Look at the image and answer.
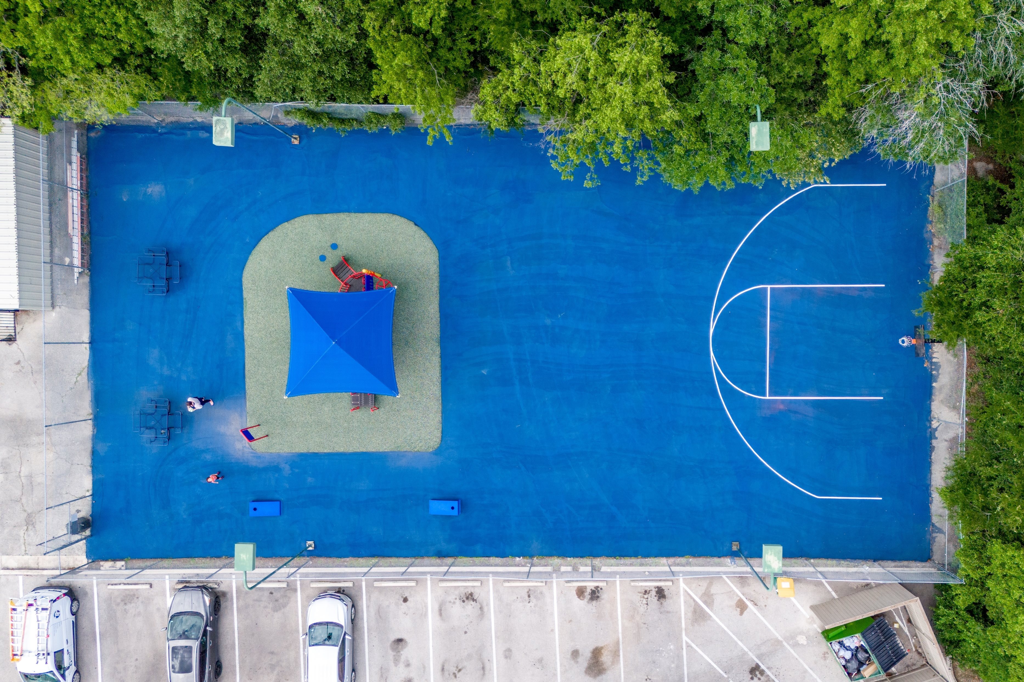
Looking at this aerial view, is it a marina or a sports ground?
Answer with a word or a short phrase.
sports ground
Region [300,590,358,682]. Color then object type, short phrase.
white car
